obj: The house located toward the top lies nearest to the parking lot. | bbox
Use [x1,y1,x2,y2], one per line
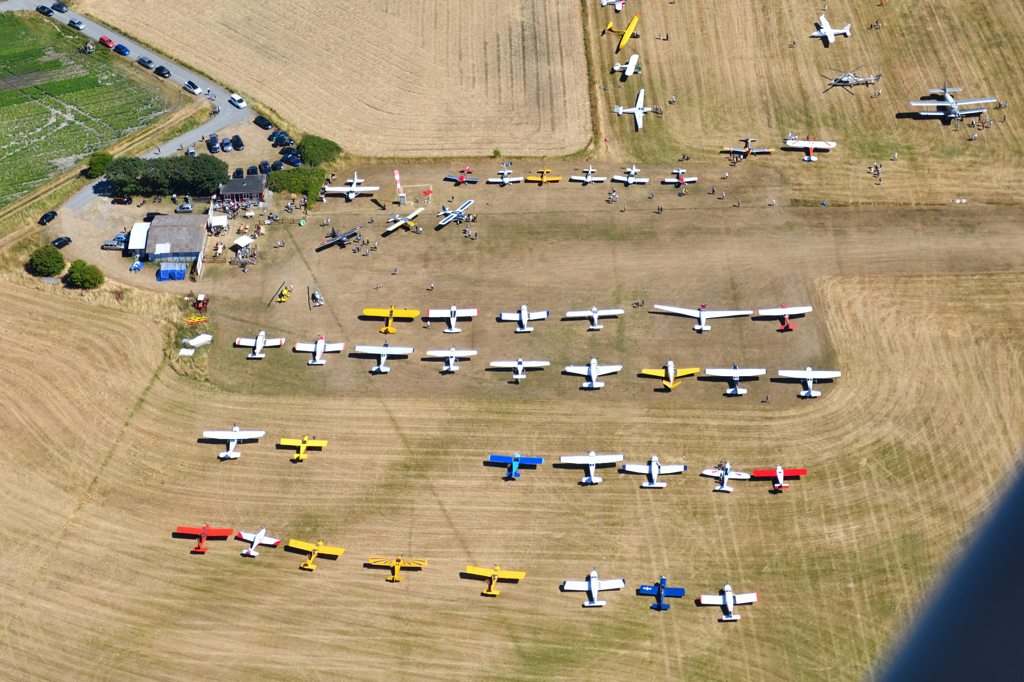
[219,174,266,203]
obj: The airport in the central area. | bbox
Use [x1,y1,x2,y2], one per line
[40,155,1024,404]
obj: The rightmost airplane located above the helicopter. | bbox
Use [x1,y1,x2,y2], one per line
[811,15,851,42]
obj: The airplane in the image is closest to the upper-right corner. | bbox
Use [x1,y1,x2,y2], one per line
[910,84,999,123]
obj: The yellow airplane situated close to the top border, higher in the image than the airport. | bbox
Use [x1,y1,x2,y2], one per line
[609,14,640,50]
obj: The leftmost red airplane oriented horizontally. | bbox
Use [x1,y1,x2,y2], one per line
[176,525,233,553]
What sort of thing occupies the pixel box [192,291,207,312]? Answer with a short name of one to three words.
work vehicle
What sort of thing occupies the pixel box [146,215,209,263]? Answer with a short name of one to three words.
hangar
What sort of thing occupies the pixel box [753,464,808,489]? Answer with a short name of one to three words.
airplane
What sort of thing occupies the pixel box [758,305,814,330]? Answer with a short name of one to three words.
airplane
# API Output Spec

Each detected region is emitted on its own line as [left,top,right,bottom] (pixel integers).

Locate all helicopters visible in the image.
[827,66,885,88]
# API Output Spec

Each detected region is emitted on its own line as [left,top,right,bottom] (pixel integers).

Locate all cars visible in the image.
[261,161,271,174]
[51,2,68,12]
[102,239,127,251]
[230,92,246,107]
[99,35,116,47]
[282,153,301,166]
[38,213,59,225]
[268,131,288,141]
[155,65,171,77]
[274,138,293,148]
[233,135,244,150]
[222,138,232,151]
[249,164,258,175]
[280,146,299,158]
[186,146,197,158]
[144,211,164,221]
[255,115,272,129]
[114,44,130,54]
[46,237,74,247]
[273,159,283,172]
[235,166,244,178]
[69,17,85,29]
[138,56,155,68]
[112,195,133,205]
[209,132,220,150]
[37,5,53,15]
[175,203,194,213]
[112,233,130,244]
[185,81,201,93]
